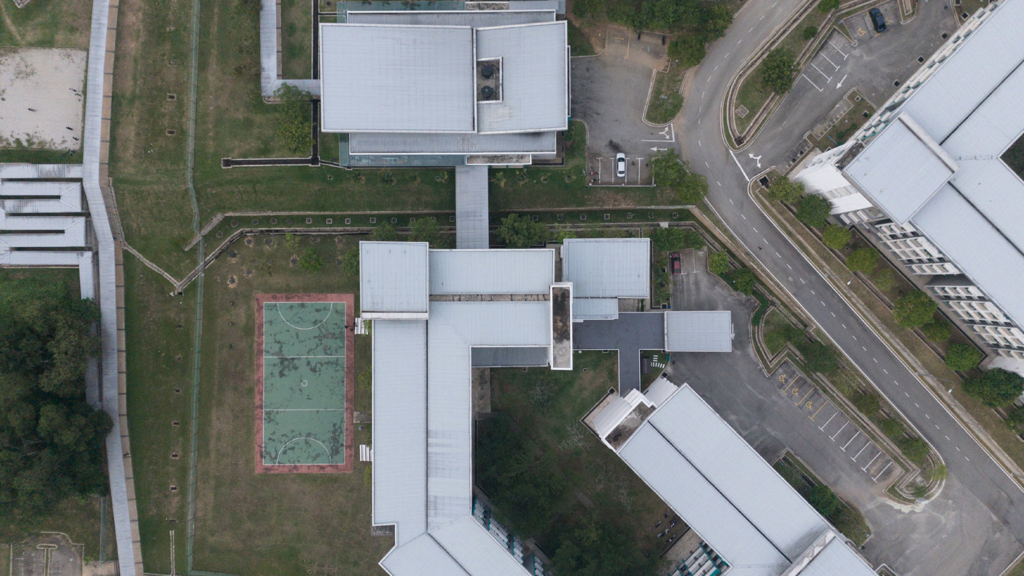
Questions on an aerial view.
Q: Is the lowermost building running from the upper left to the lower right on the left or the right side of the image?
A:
right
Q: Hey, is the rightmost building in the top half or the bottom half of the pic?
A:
top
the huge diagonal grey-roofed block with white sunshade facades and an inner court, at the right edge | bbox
[799,0,1024,378]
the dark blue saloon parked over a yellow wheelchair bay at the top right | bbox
[869,7,885,33]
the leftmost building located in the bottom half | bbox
[360,241,558,576]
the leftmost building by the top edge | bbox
[319,0,571,169]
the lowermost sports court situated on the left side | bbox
[255,294,354,473]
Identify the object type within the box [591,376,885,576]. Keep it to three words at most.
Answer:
building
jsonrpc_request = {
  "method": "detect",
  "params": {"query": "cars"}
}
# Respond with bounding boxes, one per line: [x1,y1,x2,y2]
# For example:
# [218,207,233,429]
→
[869,7,885,33]
[671,253,682,275]
[615,153,626,178]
